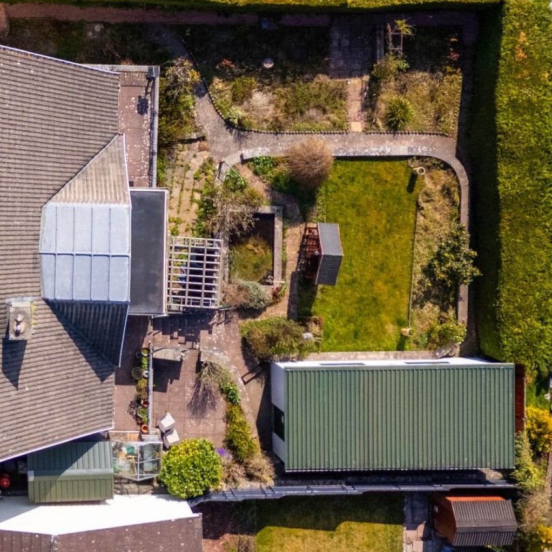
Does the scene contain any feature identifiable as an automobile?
No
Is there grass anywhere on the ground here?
Yes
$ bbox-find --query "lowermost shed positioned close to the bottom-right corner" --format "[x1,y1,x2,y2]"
[431,488,517,546]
